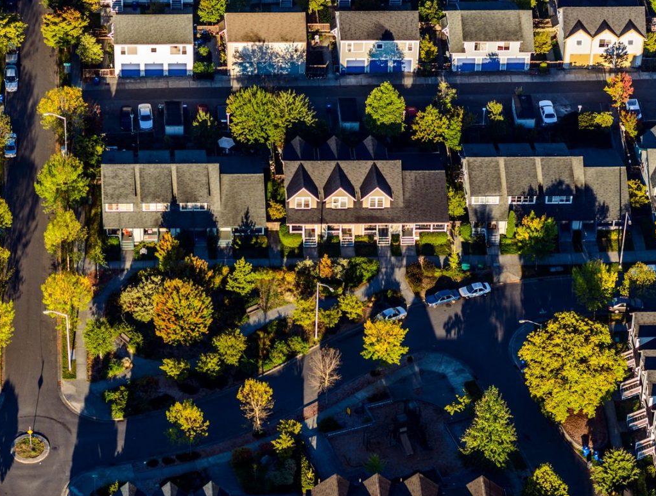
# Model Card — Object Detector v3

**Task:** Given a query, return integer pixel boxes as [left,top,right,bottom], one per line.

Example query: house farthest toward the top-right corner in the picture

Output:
[553,0,645,70]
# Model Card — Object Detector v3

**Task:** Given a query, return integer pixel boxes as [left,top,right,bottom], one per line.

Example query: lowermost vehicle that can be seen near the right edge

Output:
[608,293,646,312]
